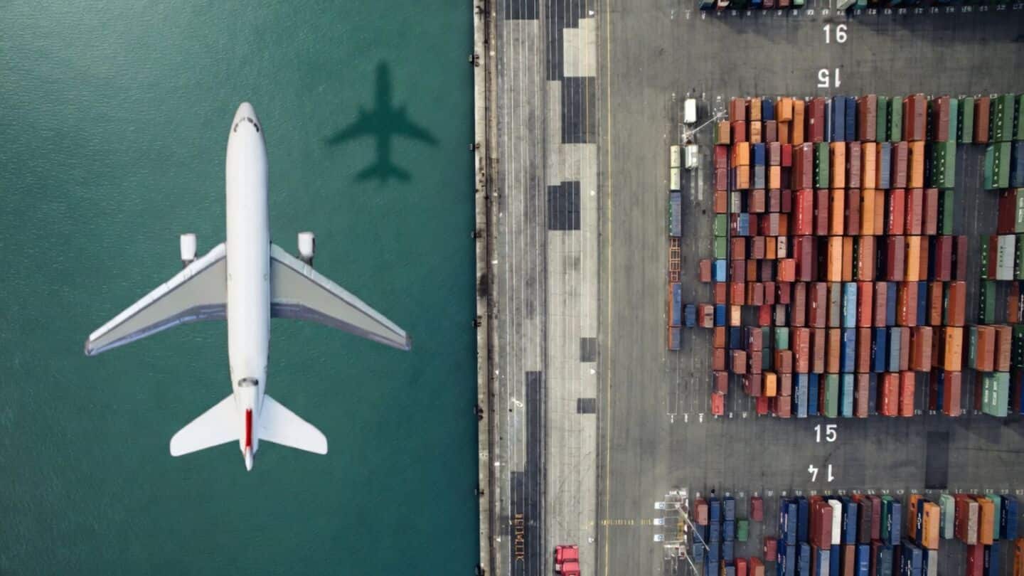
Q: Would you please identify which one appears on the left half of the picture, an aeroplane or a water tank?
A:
aeroplane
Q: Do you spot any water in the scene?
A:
Yes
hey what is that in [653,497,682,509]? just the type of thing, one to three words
vehicle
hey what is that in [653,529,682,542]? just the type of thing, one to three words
vehicle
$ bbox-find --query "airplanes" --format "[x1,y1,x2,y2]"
[81,103,411,479]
